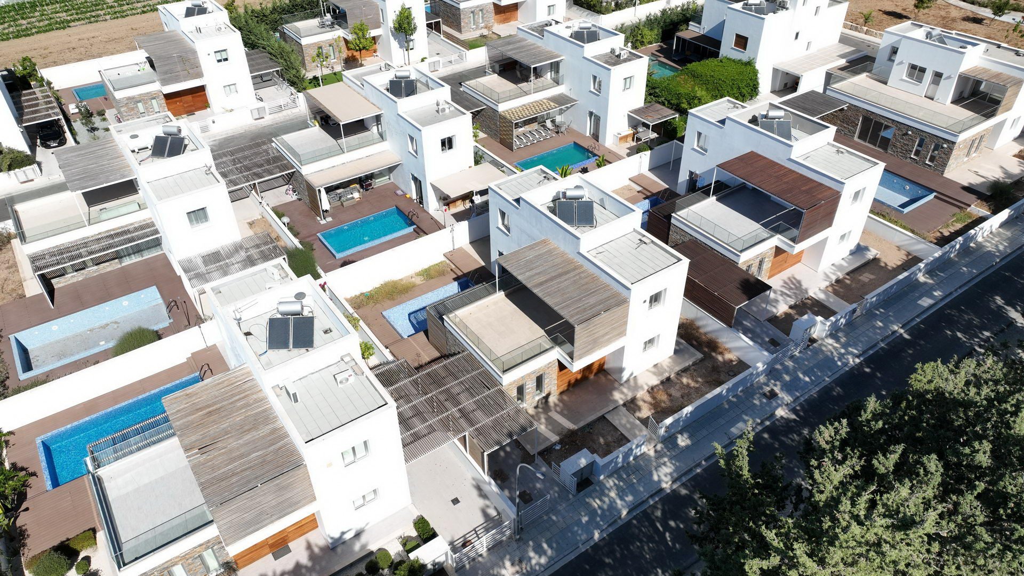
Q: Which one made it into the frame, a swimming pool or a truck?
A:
swimming pool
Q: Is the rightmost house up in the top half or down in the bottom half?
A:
top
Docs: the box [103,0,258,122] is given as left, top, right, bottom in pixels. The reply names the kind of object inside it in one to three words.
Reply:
house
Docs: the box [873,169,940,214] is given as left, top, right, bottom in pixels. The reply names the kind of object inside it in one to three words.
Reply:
swimming pool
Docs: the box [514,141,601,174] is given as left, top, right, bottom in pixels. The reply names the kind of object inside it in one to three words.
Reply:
swimming pool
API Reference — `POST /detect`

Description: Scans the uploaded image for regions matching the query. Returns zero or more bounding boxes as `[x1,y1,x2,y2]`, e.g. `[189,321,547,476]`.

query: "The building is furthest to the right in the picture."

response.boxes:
[825,15,1024,175]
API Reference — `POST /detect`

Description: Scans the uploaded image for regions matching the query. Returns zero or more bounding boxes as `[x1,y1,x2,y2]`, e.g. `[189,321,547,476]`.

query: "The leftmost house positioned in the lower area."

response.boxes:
[91,257,414,576]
